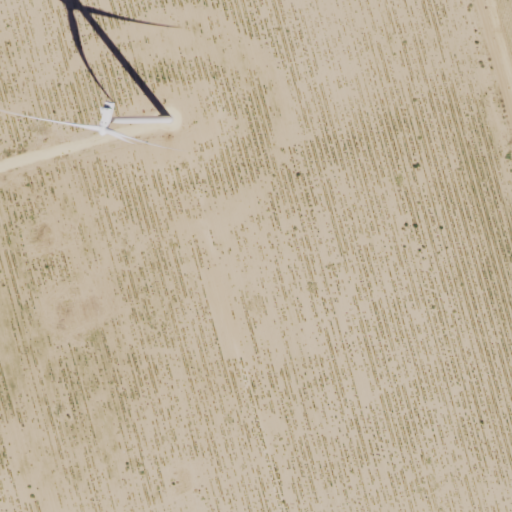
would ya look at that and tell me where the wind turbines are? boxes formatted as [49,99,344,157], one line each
[1,101,184,147]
